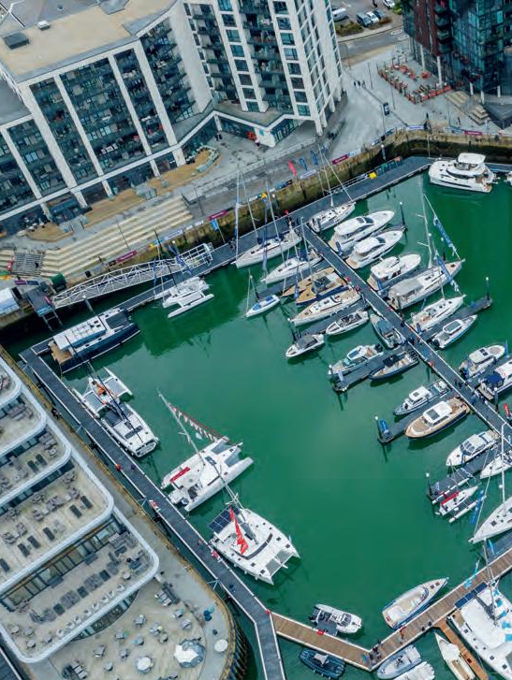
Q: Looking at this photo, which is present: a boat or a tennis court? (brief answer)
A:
boat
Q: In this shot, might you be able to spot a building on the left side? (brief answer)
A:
Yes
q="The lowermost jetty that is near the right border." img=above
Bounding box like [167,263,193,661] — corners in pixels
[435,618,491,680]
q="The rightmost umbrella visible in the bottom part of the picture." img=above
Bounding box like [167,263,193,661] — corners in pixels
[208,633,227,650]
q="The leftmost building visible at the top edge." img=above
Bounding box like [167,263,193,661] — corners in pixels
[0,0,226,236]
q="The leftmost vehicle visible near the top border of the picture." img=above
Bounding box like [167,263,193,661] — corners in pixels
[334,7,350,20]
